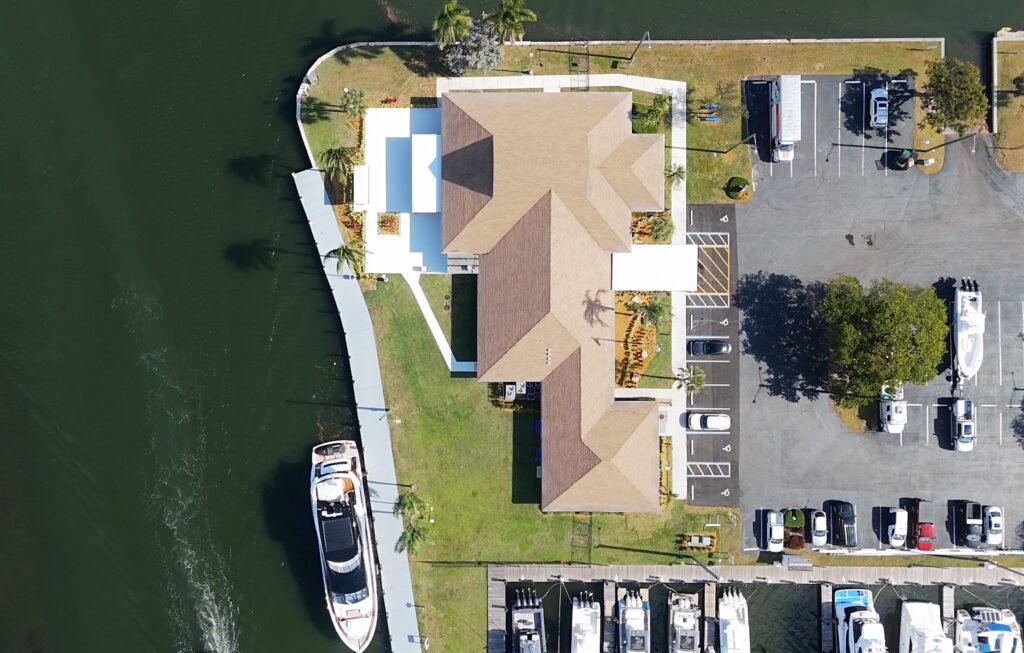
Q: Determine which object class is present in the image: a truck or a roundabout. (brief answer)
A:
truck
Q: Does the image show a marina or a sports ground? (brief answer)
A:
marina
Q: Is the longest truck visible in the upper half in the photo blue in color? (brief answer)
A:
No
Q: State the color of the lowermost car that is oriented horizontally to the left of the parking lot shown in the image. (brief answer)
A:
white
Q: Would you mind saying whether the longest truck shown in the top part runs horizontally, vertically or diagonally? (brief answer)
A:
vertically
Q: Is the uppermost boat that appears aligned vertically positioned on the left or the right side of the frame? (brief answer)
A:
right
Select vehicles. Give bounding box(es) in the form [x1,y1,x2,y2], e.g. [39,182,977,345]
[769,74,801,164]
[913,497,939,550]
[984,507,1006,546]
[688,413,731,434]
[833,501,859,551]
[951,399,977,451]
[878,383,905,433]
[885,508,910,547]
[868,88,892,128]
[962,501,987,549]
[690,338,731,358]
[809,511,830,547]
[765,510,788,553]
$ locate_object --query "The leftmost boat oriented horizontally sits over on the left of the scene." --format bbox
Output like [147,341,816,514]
[318,446,347,459]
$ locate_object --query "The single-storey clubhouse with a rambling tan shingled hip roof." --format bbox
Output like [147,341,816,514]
[440,91,665,513]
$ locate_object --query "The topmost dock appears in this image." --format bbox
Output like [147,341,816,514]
[506,566,1024,587]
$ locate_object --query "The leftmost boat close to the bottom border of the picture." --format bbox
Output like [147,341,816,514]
[311,439,382,653]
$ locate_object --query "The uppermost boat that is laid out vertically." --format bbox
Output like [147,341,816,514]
[953,275,986,386]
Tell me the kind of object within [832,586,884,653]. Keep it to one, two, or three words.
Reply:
boat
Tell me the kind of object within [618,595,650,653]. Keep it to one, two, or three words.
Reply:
boat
